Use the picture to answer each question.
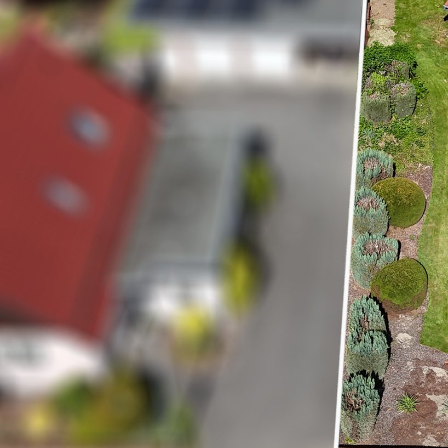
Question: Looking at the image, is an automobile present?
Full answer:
No, there appears to be no automobile in this shot.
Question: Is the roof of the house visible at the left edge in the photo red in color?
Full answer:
Yes, the roof of the house visible at the left edge is indeed red.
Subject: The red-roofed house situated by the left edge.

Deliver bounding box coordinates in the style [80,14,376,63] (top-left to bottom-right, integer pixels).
[0,29,161,383]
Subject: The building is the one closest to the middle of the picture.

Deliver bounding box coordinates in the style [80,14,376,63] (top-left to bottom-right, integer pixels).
[125,127,252,306]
